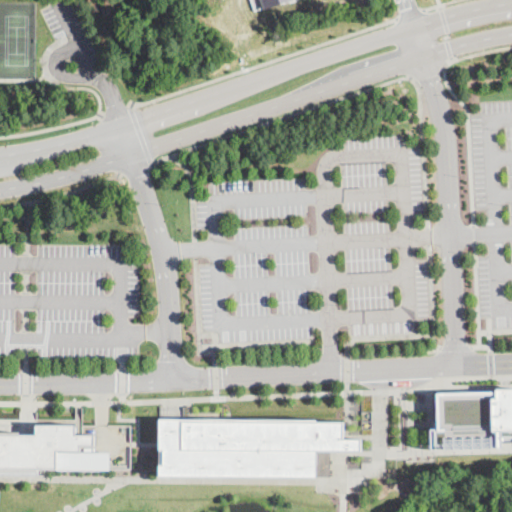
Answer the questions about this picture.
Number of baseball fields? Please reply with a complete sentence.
No baseball fields are visible.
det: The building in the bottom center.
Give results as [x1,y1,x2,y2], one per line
[157,418,362,478]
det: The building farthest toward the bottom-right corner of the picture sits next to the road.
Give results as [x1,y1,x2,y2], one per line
[429,388,512,450]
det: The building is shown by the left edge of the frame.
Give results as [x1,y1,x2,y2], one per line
[0,425,110,476]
